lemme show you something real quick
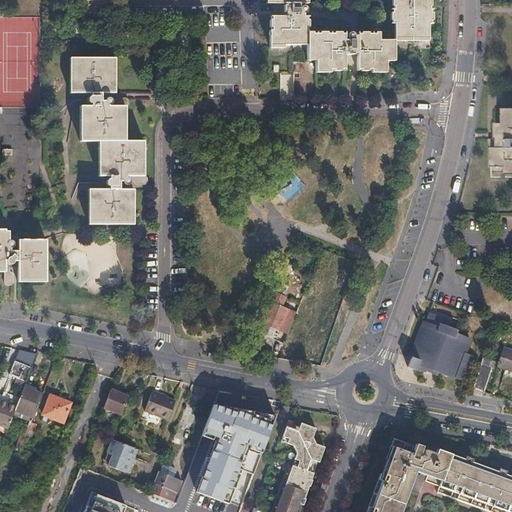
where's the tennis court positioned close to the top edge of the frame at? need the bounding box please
[0,17,40,107]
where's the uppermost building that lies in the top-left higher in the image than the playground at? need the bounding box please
[71,57,118,94]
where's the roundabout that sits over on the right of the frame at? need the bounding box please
[335,361,395,421]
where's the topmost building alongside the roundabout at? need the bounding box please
[408,312,472,378]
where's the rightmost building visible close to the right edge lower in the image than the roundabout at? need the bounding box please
[368,439,512,512]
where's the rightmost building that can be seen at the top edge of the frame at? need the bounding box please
[392,0,435,48]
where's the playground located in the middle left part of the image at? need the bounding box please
[62,234,125,293]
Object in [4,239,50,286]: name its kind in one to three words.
building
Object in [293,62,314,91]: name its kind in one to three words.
building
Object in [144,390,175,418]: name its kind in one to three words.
house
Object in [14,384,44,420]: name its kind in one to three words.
house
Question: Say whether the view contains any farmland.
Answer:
No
